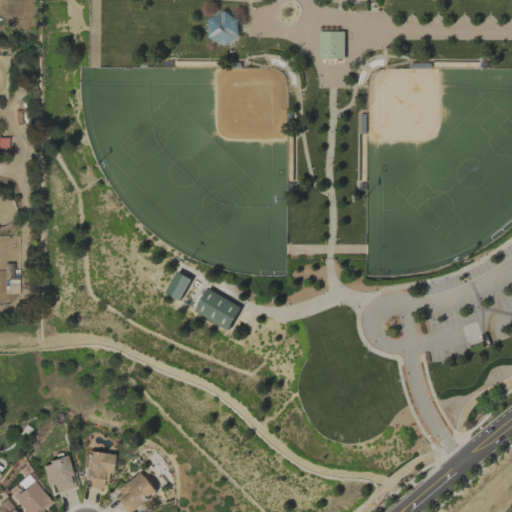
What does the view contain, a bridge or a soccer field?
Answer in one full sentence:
There is a soccer field in the scene.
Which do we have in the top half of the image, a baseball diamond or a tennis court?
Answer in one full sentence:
There is a baseball diamond in the top half of the image.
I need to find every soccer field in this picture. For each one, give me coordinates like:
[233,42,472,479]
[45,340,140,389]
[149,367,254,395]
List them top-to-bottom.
[110,98,259,246]
[396,98,512,246]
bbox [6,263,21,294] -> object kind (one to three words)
building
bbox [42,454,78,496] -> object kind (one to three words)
house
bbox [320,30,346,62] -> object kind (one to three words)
building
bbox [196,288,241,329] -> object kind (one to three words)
barn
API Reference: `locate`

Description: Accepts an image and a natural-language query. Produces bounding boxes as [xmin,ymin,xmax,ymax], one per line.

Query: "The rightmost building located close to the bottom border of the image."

[119,474,156,512]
